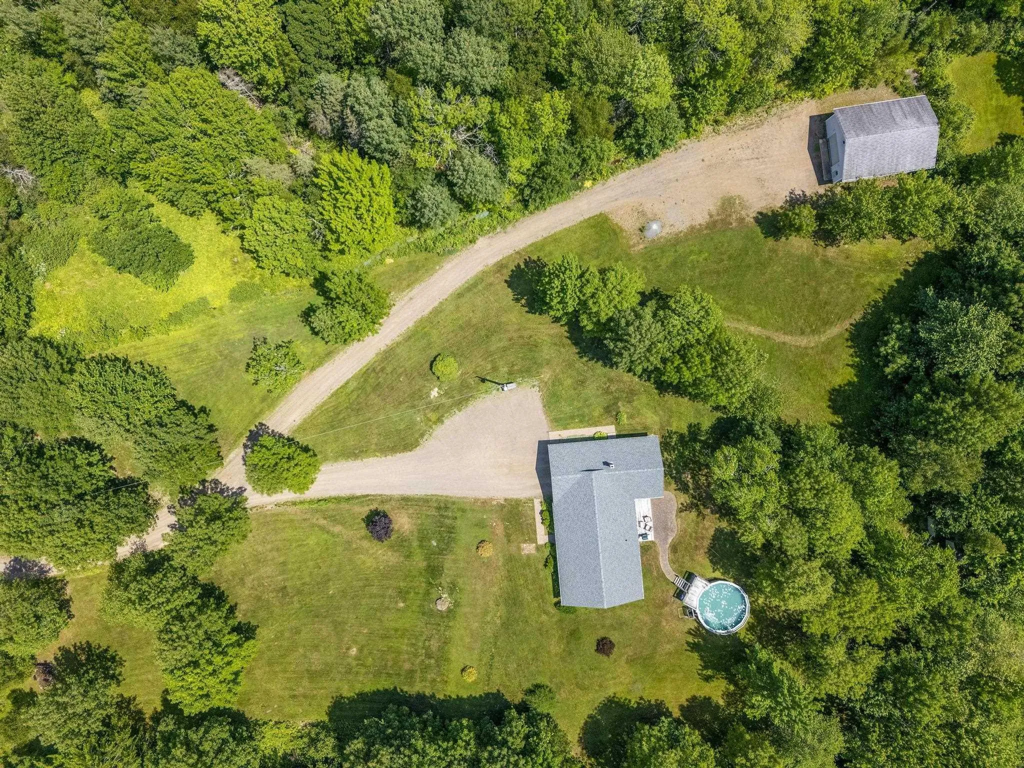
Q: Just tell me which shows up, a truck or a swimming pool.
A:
swimming pool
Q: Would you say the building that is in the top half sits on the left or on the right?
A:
right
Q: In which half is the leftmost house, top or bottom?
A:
bottom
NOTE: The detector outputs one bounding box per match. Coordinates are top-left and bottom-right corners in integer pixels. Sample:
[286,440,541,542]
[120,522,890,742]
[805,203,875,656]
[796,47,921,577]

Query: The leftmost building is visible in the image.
[548,434,664,609]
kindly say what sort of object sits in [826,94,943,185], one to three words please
building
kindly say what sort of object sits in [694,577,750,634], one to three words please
swimming pool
